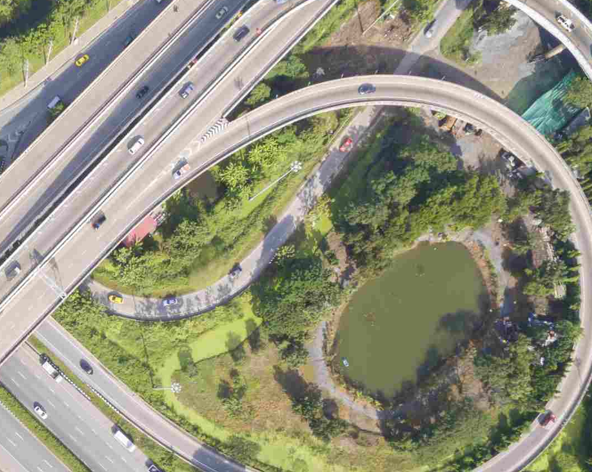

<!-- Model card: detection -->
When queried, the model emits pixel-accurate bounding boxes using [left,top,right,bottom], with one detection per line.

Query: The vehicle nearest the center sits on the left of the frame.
[225,264,245,282]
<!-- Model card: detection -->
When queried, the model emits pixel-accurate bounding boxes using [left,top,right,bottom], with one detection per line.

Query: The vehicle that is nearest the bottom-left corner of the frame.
[31,403,48,419]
